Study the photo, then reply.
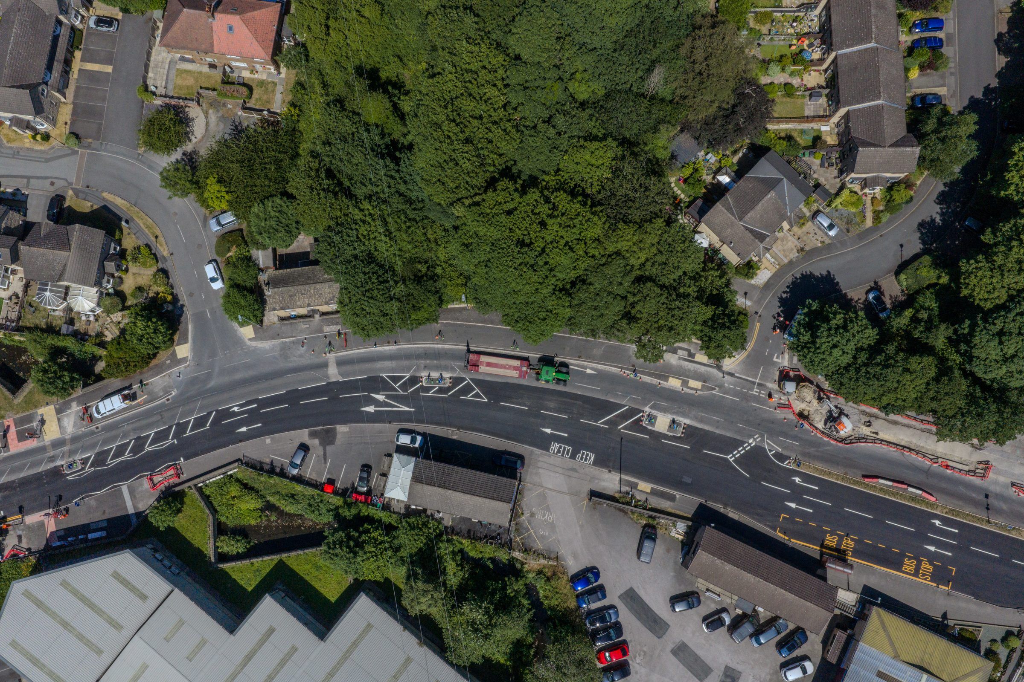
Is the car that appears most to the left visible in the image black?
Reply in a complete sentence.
Yes, black is the color of the car that appears most to the left.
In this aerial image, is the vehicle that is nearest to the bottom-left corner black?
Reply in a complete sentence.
No, from above the vehicle that is nearest to the bottom-left corner looks white.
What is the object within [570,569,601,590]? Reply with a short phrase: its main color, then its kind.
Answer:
blue car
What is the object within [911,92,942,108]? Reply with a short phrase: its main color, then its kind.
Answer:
blue car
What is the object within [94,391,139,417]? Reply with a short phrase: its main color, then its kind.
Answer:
white vehicle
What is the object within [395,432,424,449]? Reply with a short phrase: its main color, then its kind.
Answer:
white car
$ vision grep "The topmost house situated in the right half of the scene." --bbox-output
[816,0,899,64]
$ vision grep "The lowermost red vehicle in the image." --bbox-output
[596,644,630,663]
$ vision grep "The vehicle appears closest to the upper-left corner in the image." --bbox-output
[88,14,121,34]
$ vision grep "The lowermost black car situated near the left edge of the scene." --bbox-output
[45,193,69,224]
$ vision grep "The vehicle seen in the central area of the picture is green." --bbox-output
[534,363,570,384]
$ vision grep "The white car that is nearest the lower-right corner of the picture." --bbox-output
[779,658,815,682]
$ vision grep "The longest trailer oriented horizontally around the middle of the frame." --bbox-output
[464,353,538,379]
